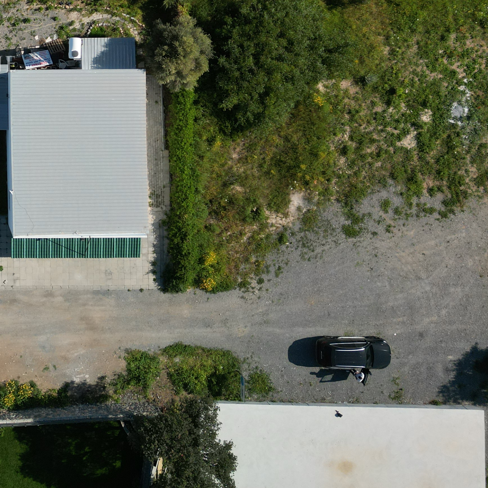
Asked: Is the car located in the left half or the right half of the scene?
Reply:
right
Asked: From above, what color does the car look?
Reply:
black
